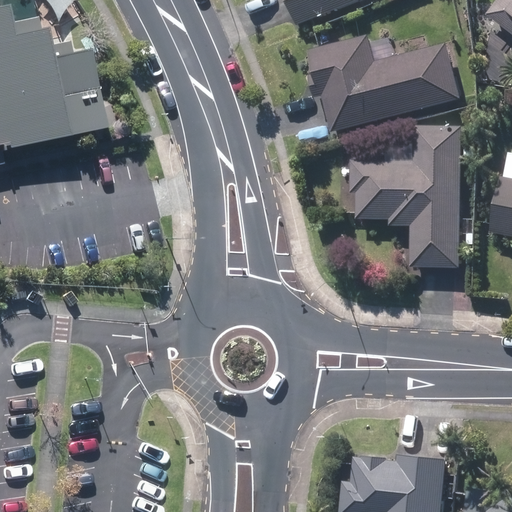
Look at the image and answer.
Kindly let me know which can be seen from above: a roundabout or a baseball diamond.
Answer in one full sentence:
The image shows a roundabout.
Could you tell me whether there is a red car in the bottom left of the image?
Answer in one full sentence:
Yes, a red car shows up in the bottom left of the image.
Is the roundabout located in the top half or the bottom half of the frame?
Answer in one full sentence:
Seen from above, the roundabout lies in the bottom half of the view.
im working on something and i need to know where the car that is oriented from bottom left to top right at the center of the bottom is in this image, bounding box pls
[262,372,287,401]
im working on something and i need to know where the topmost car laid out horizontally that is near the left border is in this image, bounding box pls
[10,360,44,375]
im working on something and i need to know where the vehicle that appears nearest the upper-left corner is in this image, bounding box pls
[145,45,166,78]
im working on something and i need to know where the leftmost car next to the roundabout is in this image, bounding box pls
[212,390,246,408]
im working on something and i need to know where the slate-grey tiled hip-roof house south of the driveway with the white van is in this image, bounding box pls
[338,456,444,512]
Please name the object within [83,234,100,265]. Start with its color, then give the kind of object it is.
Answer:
blue car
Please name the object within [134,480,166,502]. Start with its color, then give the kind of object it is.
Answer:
white car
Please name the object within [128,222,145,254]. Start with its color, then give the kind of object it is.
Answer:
white car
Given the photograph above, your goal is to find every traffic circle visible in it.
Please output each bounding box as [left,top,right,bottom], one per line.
[210,325,278,394]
